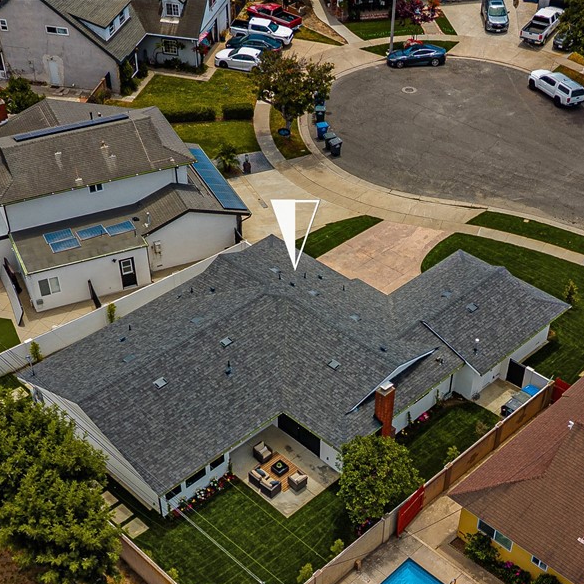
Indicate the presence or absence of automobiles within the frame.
Yes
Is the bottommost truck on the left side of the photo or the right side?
right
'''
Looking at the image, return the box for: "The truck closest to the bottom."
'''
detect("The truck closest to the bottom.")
[529,69,584,104]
